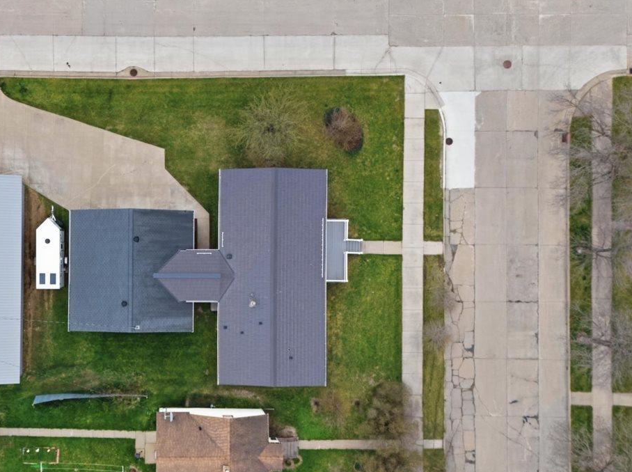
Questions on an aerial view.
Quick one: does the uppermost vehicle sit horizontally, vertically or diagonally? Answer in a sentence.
In this picture, the uppermost vehicle is oriented vertically.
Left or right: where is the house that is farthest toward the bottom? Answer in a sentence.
The house that is farthest toward the bottom sits on the left side.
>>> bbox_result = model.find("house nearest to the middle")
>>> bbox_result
[154,166,367,389]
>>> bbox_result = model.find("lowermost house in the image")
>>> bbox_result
[156,406,285,472]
